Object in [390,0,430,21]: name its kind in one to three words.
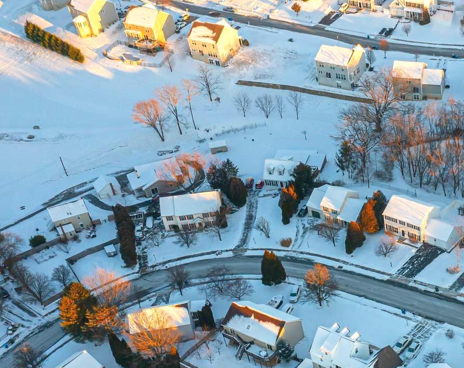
house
